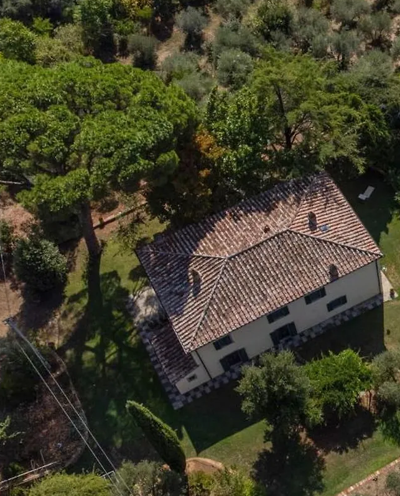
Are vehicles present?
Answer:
No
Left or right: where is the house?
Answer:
right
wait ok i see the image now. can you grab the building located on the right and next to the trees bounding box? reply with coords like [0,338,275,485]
[135,167,385,394]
